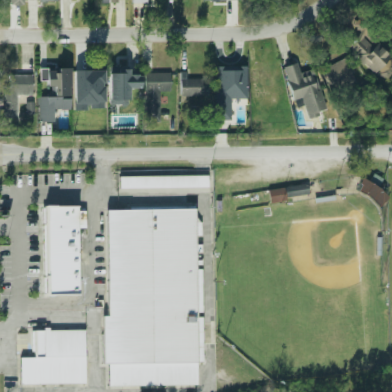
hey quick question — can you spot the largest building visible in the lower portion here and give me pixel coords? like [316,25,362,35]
[102,210,203,386]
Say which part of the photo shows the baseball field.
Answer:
bottom right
